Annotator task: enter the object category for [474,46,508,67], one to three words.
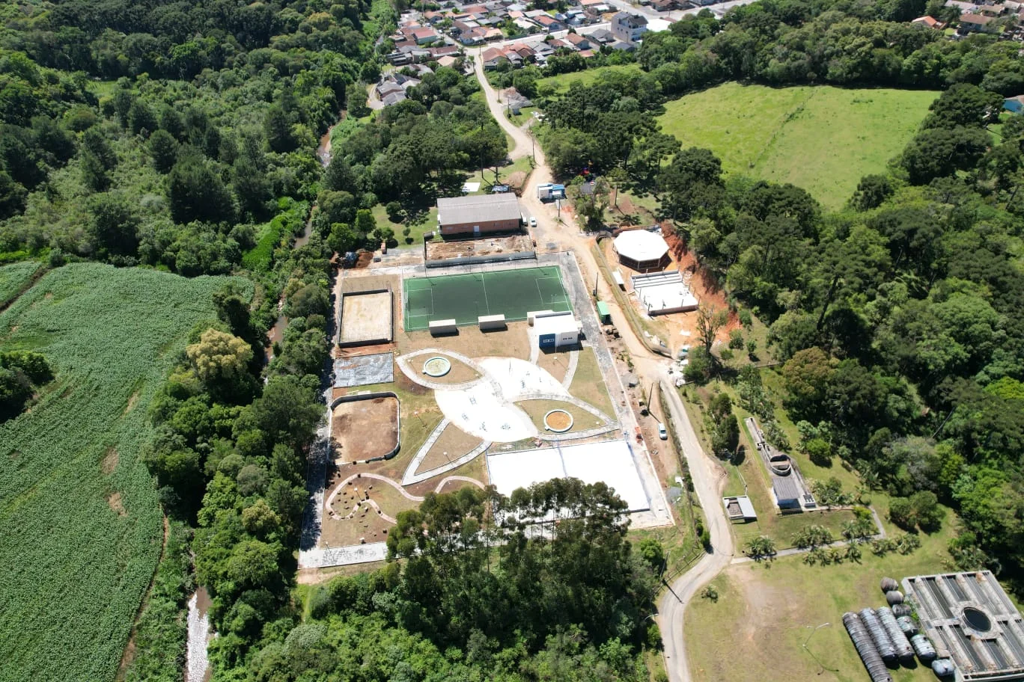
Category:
house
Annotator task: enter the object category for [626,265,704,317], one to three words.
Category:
building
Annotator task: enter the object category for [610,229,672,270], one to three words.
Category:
building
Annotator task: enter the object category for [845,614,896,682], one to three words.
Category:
storage tank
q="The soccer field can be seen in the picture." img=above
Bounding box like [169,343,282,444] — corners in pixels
[403,265,574,332]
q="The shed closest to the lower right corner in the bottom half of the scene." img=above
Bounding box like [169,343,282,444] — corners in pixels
[765,475,803,507]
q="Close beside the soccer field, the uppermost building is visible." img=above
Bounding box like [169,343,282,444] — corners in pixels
[437,192,522,235]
